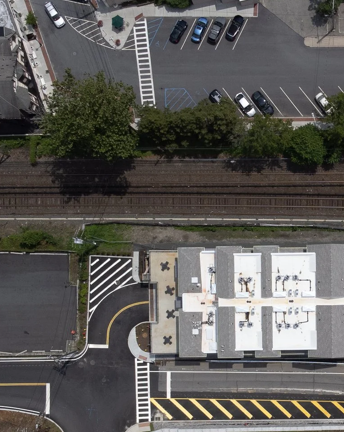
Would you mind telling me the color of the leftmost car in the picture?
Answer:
white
